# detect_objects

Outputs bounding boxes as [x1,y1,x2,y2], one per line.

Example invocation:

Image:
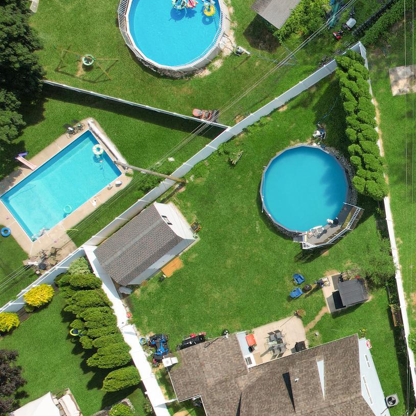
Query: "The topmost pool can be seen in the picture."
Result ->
[125,0,232,74]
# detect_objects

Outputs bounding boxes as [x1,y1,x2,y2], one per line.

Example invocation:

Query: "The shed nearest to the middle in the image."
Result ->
[94,203,196,287]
